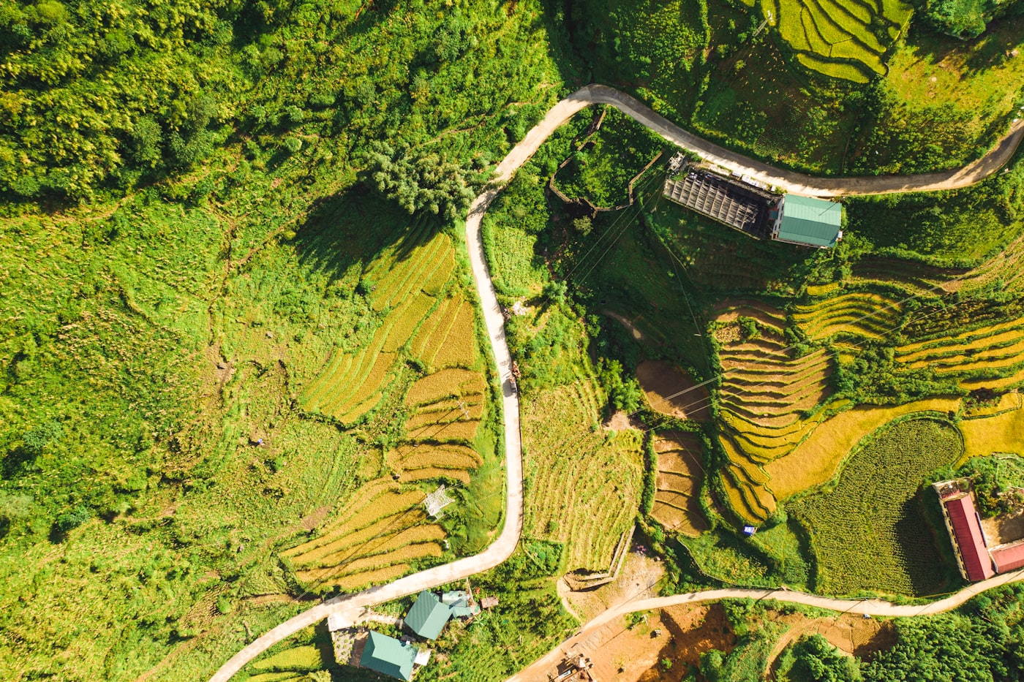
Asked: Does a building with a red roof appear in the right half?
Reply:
Yes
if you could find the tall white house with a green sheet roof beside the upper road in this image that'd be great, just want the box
[761,194,843,251]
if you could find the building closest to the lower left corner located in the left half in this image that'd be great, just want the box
[360,629,420,681]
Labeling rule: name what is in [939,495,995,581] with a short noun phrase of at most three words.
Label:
building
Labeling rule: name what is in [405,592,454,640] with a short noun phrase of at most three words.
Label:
house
